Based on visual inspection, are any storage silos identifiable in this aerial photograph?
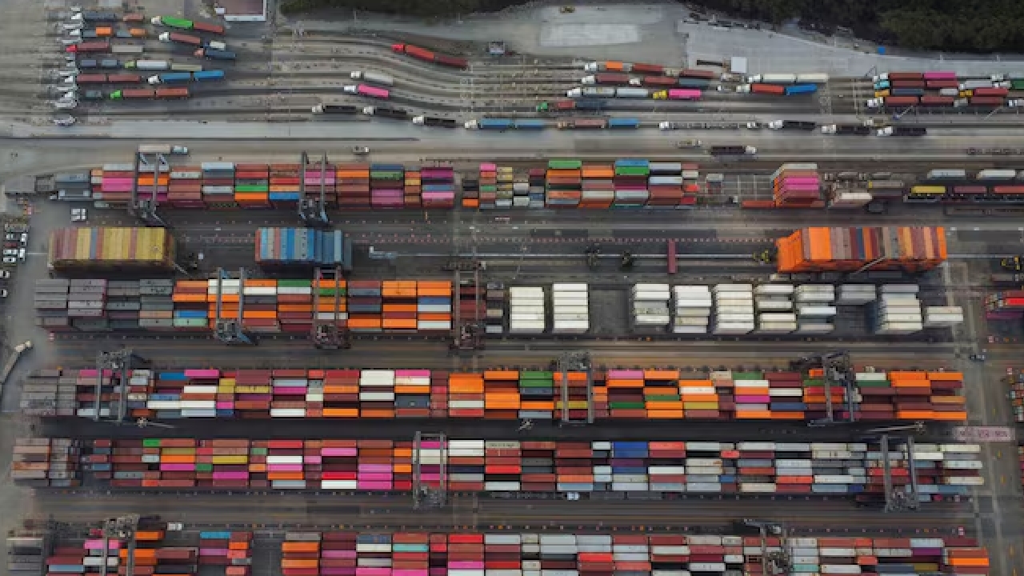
No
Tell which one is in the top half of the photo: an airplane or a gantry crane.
gantry crane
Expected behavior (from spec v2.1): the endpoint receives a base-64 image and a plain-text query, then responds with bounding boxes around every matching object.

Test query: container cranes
[301,151,333,231]
[729,518,791,576]
[213,268,259,349]
[550,353,594,425]
[413,433,449,508]
[91,351,153,423]
[131,151,181,234]
[846,437,922,511]
[100,513,162,576]
[314,269,351,354]
[796,352,868,424]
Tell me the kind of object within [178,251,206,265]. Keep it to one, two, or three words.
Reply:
work vehicle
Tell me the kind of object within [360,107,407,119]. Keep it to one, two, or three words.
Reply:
vehicle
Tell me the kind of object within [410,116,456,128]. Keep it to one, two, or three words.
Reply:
vehicle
